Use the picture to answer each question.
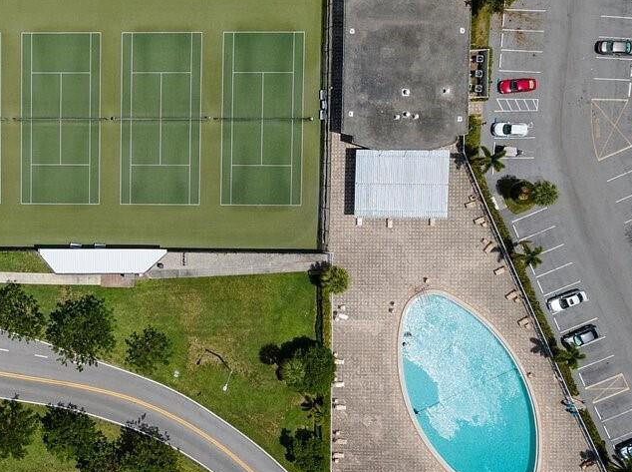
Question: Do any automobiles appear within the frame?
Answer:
Yes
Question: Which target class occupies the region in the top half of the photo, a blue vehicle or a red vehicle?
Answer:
red vehicle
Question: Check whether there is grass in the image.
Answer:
Yes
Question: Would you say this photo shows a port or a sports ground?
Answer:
sports ground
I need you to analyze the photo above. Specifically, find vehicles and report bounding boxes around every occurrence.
[614,439,632,458]
[562,324,599,348]
[491,120,529,138]
[546,286,586,312]
[597,40,632,55]
[498,77,537,95]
